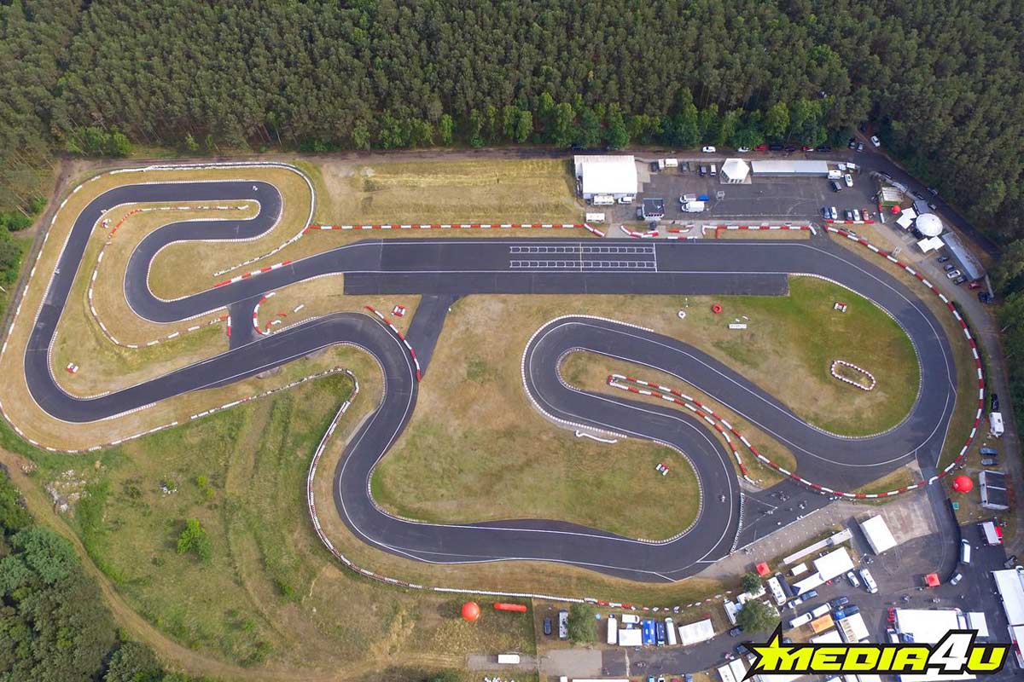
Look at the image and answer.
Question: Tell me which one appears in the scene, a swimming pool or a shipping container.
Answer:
shipping container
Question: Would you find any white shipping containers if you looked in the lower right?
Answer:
Yes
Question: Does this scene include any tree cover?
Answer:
Yes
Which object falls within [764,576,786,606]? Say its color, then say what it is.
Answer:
white camper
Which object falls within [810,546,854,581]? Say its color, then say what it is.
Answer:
white tent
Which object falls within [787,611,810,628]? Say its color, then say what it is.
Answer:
white vehicle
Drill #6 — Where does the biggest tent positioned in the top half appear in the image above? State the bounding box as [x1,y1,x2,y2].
[910,214,941,242]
